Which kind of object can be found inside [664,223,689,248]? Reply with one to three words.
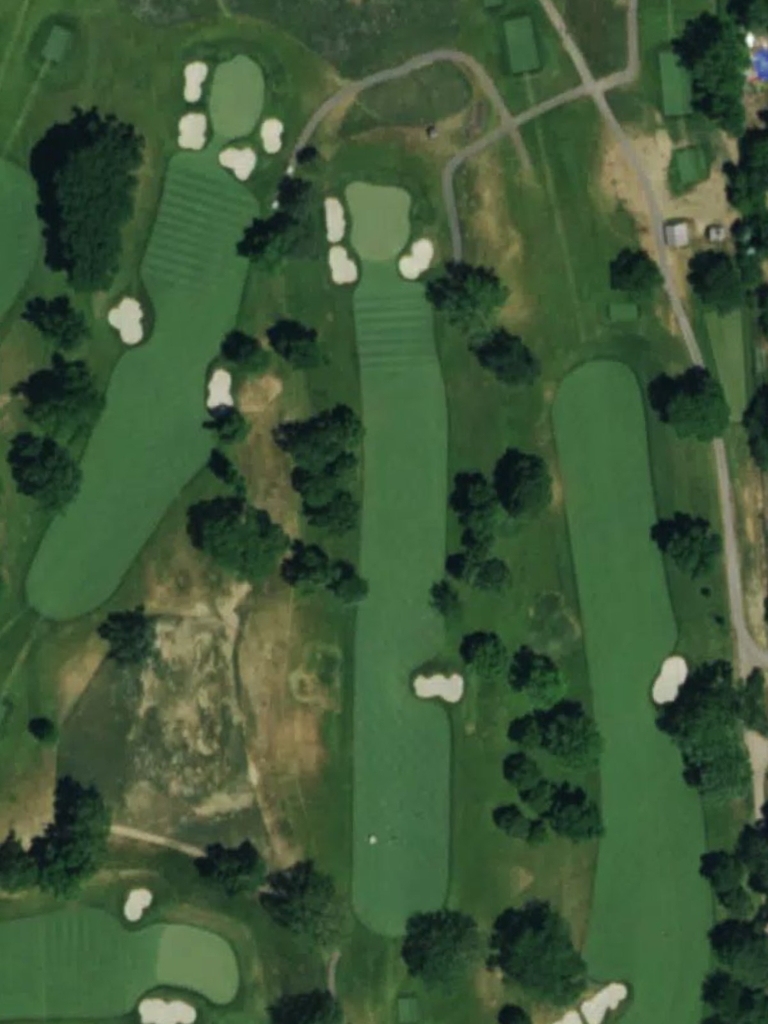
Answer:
shed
